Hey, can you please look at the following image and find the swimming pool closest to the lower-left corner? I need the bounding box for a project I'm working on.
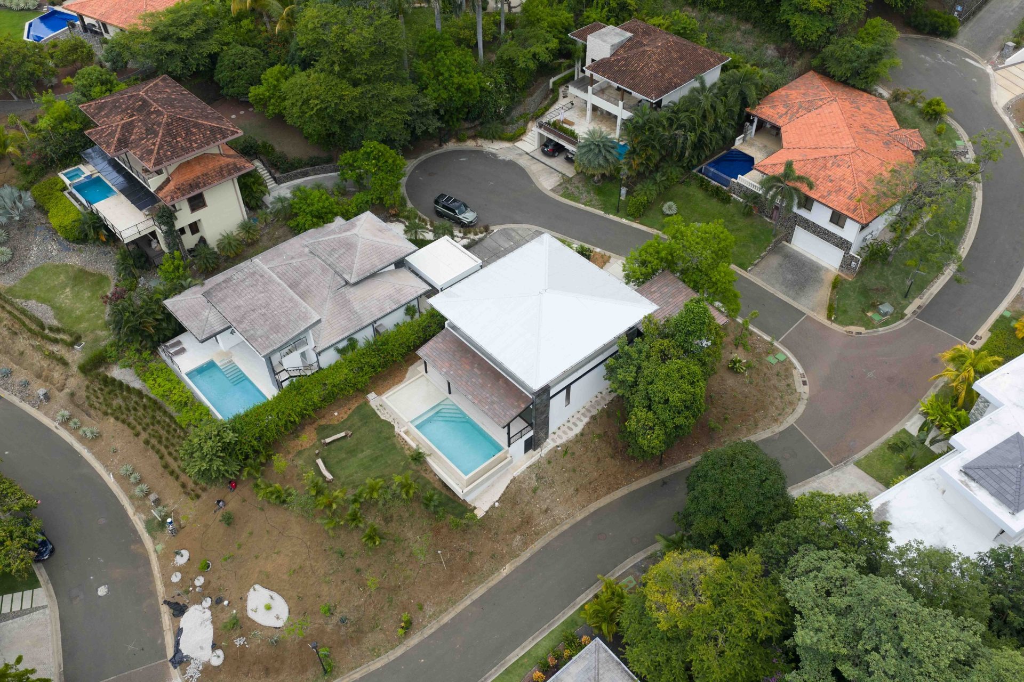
[187,353,273,423]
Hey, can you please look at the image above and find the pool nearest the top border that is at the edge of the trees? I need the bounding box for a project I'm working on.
[25,15,75,37]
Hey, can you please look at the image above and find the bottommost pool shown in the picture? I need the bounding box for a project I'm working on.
[412,400,502,474]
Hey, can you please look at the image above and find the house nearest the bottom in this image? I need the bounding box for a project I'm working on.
[548,635,644,682]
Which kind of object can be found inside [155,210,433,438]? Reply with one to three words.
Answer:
house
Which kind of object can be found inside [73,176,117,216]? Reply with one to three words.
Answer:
swimming pool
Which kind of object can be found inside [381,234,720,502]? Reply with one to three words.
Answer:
house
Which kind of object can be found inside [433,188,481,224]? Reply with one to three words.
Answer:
car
